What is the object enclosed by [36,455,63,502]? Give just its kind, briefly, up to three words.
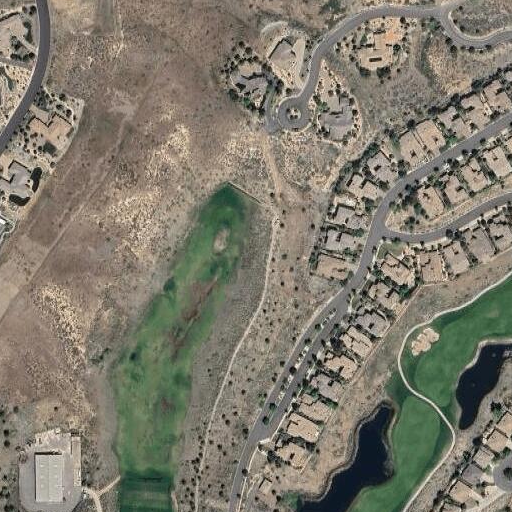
building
